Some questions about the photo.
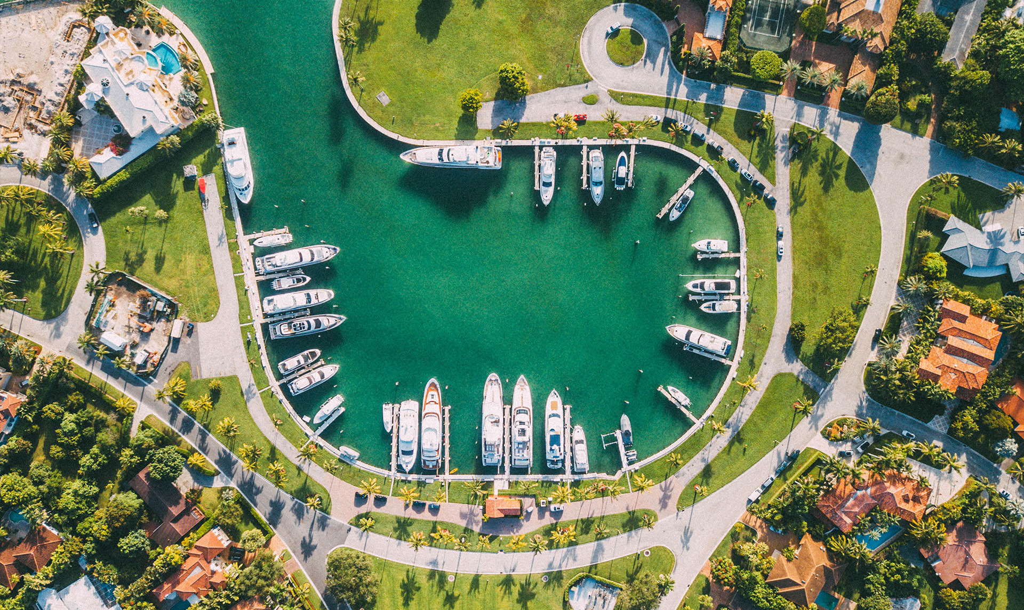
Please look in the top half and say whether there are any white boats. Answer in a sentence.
Yes, in the top half there is a white boat.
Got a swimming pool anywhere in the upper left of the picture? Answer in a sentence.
Yes, there is a swimming pool in the upper left of the picture.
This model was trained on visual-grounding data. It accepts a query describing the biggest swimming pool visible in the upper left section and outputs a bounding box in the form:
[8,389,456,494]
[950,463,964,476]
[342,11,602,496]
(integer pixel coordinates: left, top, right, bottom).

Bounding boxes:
[152,41,182,75]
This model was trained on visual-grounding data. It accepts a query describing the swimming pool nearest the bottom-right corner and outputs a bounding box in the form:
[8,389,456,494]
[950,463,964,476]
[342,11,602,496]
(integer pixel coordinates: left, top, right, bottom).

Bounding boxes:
[858,523,902,550]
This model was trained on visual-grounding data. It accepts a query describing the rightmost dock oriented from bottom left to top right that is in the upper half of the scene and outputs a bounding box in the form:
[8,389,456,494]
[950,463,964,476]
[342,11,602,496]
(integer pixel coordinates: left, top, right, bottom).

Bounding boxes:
[655,166,706,219]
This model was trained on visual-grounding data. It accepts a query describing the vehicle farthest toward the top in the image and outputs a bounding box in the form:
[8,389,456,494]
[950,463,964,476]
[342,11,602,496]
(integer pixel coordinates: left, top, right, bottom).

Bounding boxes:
[606,23,622,35]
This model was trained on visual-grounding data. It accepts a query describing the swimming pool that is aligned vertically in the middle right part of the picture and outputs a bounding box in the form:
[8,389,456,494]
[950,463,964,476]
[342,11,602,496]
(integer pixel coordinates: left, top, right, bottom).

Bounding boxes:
[993,335,1010,367]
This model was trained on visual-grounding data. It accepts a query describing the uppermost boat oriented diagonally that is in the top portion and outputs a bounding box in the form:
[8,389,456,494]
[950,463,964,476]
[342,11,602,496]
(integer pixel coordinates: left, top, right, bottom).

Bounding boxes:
[663,188,695,220]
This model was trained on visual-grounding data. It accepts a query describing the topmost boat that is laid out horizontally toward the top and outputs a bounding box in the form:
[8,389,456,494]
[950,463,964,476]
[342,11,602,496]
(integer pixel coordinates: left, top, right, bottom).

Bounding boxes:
[401,143,502,171]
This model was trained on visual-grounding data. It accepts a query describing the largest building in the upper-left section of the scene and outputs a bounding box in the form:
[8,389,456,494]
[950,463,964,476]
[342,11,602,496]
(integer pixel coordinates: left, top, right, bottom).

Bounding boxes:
[78,13,181,139]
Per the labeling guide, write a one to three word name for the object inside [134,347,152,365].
vehicle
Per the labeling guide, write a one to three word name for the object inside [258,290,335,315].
boat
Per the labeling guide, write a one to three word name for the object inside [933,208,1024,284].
house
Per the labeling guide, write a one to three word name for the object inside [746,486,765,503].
vehicle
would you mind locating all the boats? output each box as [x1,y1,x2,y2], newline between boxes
[685,273,744,294]
[271,275,311,291]
[340,445,359,460]
[587,150,610,205]
[539,147,556,205]
[613,152,629,191]
[668,386,691,407]
[692,239,729,253]
[508,376,532,467]
[254,233,292,247]
[700,300,744,314]
[399,399,420,471]
[621,415,634,448]
[663,188,695,220]
[271,308,345,339]
[421,379,445,476]
[545,388,566,469]
[258,290,335,315]
[477,373,504,465]
[276,349,321,375]
[254,241,339,274]
[572,424,589,472]
[384,401,393,432]
[401,143,502,171]
[666,318,731,356]
[220,126,256,213]
[314,388,343,423]
[286,361,339,395]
